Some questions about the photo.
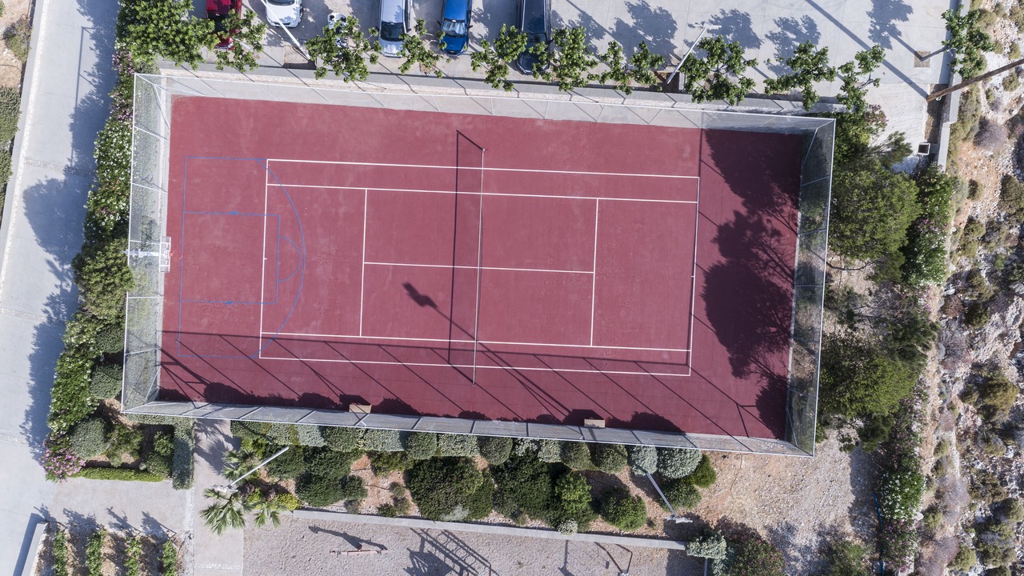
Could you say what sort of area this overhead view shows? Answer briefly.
sports ground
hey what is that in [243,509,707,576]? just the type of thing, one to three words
playground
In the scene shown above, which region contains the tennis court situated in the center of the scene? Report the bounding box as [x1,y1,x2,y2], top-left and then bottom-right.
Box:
[160,95,803,439]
